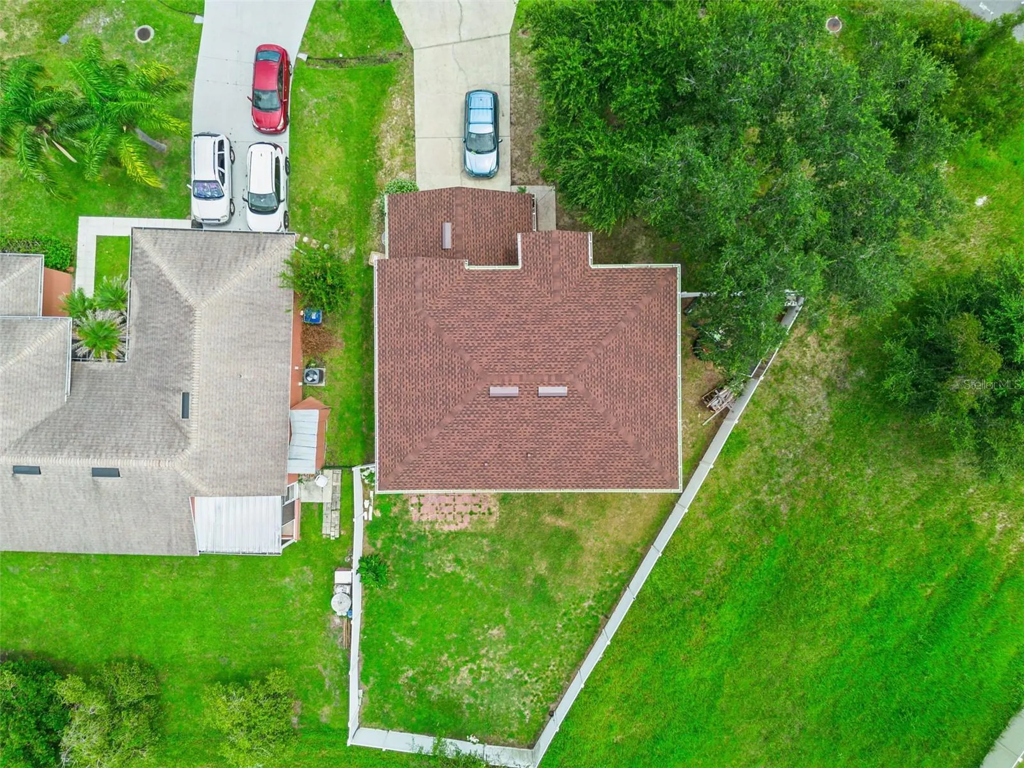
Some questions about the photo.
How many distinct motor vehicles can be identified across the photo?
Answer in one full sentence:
My tally gives 4 motor vehicles in this view.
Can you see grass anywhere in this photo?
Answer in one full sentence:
Yes, grass shows up in the scene.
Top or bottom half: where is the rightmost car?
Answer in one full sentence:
The rightmost car is in the top half of the image.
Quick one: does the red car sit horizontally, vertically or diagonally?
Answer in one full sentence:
What the image shows is the red car lying vertically.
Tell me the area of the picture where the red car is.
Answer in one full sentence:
You can find the red car in the top left area of the picture.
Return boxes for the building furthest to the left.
[0,225,332,557]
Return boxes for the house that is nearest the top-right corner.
[372,185,684,493]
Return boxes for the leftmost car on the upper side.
[185,131,234,226]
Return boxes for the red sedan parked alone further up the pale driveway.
[245,43,293,138]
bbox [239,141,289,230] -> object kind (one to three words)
car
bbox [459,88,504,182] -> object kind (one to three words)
car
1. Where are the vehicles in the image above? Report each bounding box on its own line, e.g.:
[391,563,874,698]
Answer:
[185,131,234,226]
[245,43,293,138]
[459,88,504,182]
[239,141,289,230]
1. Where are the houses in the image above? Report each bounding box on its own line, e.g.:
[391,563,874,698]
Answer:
[0,225,332,557]
[372,185,684,493]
